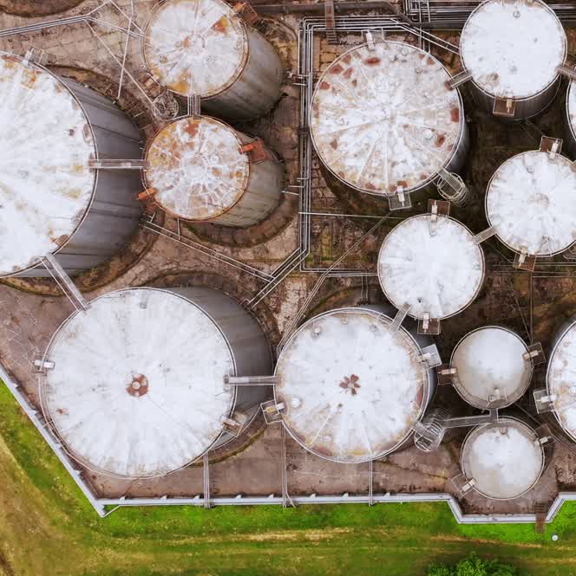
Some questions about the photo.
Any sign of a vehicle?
No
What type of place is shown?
industrial area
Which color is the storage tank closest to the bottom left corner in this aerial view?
white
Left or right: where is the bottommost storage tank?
right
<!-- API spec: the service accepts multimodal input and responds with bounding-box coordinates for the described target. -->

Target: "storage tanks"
[306,18,471,213]
[376,194,488,340]
[15,284,273,483]
[447,401,560,506]
[485,130,576,275]
[125,113,286,227]
[253,303,443,466]
[458,0,567,122]
[131,0,285,120]
[431,319,550,411]
[0,36,146,277]
[529,310,576,445]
